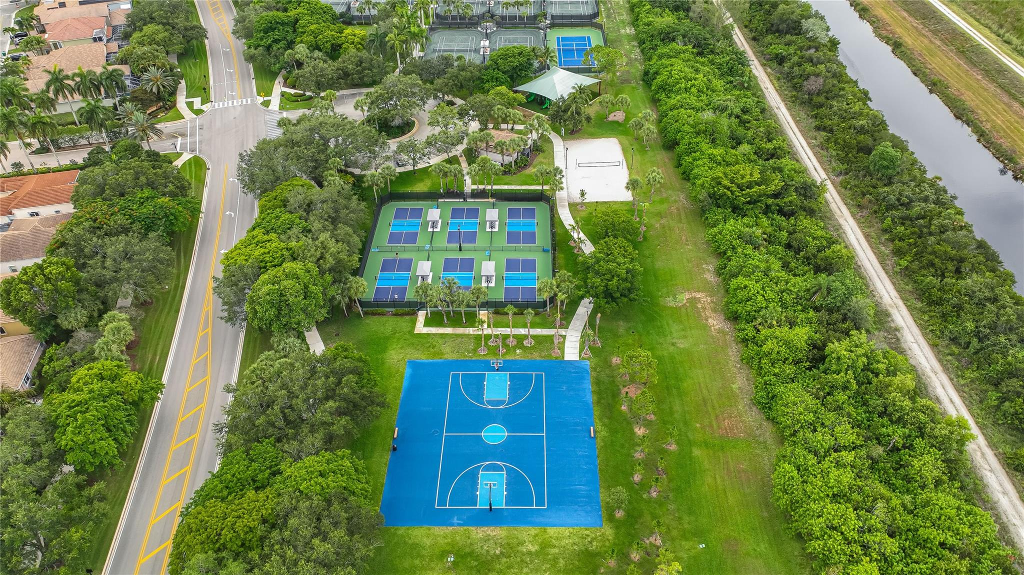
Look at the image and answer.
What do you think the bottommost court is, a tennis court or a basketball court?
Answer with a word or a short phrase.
basketball court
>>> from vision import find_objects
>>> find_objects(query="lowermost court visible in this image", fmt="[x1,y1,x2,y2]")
[381,360,603,527]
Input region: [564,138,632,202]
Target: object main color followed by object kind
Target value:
white sports court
